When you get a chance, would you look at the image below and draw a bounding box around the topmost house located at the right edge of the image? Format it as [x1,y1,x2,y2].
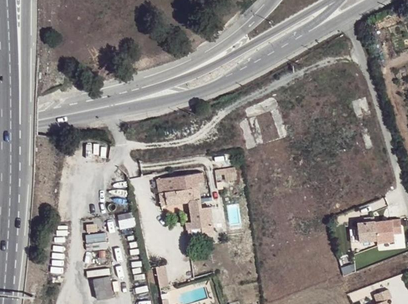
[351,219,406,255]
